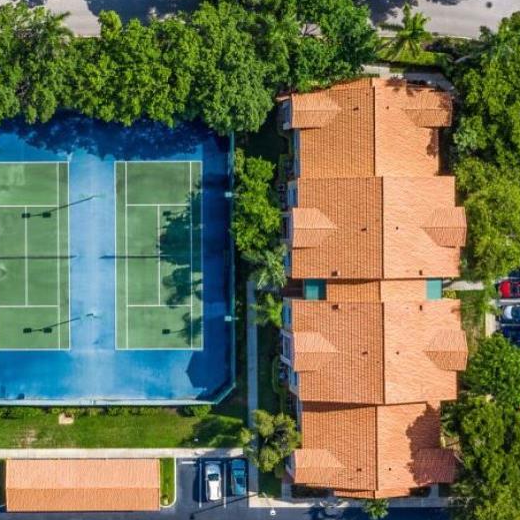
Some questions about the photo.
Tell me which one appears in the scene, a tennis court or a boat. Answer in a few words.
tennis court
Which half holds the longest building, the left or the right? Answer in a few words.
right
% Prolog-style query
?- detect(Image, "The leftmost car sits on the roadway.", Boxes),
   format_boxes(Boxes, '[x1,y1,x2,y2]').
[205,461,223,500]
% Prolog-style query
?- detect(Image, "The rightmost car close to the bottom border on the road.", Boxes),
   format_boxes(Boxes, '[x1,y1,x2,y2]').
[230,458,248,496]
